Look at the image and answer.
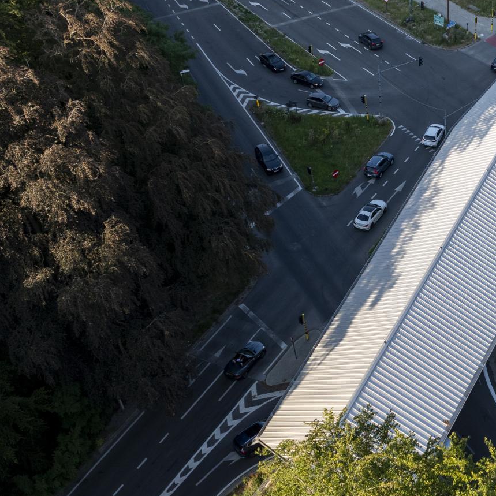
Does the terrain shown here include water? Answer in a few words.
No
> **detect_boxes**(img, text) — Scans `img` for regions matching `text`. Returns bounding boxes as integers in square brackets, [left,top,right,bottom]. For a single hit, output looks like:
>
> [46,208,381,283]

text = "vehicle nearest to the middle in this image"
[253,146,283,174]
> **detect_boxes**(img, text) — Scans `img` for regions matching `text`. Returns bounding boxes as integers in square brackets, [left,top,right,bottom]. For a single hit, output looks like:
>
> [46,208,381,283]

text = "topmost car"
[356,34,386,50]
